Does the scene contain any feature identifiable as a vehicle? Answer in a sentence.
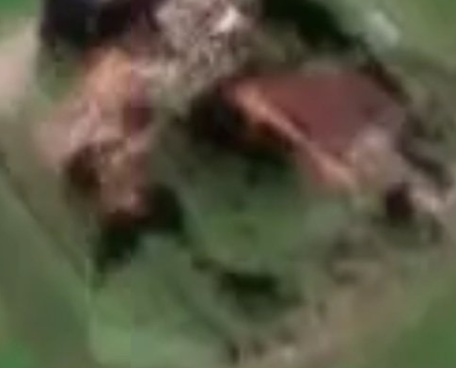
No, no vehicle is visible in the view.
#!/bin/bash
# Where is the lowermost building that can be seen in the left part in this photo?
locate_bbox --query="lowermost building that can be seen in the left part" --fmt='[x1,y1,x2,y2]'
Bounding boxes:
[85,52,161,217]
